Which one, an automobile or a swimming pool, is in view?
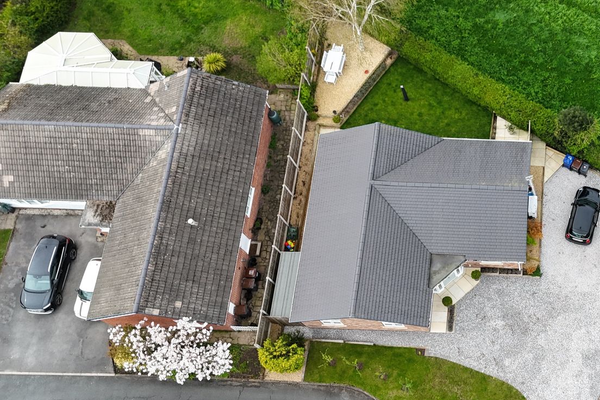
automobile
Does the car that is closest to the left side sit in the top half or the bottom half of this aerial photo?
bottom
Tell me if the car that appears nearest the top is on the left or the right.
right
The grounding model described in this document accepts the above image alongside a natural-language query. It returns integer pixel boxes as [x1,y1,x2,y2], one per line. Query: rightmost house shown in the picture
[289,121,532,334]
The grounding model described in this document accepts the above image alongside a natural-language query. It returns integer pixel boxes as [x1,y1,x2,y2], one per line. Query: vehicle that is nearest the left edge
[23,236,81,315]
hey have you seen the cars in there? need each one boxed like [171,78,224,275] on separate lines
[69,256,101,321]
[564,187,600,249]
[23,236,81,315]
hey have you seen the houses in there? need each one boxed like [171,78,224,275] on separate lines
[289,121,532,334]
[0,67,275,332]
